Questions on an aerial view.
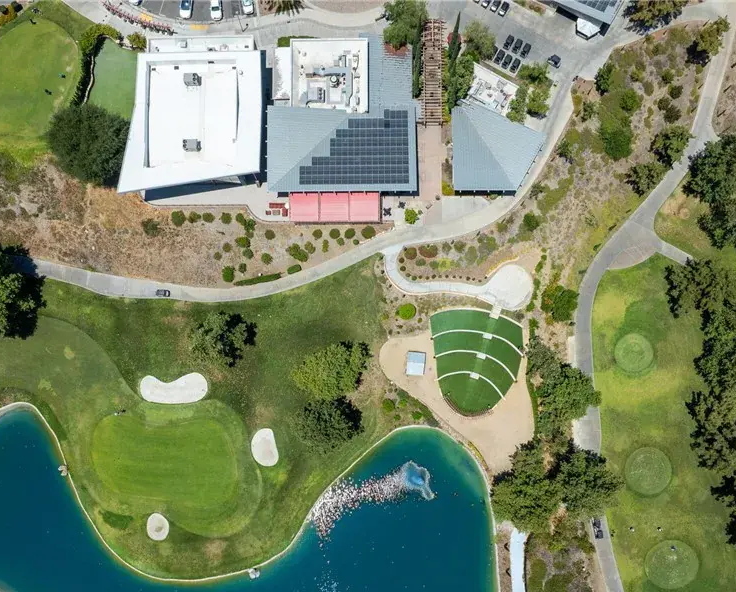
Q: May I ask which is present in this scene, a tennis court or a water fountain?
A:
water fountain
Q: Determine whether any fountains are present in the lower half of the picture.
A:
Yes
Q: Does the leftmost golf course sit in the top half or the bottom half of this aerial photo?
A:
bottom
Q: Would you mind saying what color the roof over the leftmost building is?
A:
white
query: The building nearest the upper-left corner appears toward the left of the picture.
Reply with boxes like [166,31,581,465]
[118,35,266,201]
